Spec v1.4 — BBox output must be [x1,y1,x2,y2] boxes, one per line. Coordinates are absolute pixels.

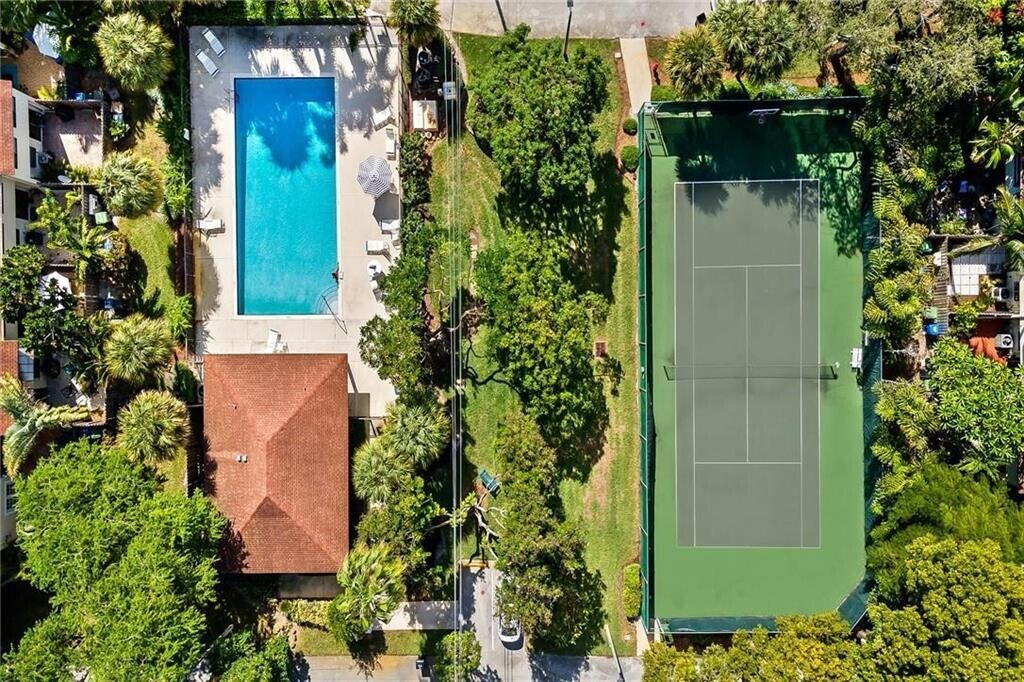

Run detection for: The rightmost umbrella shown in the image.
[358,160,392,194]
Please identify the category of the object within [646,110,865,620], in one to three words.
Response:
tennis court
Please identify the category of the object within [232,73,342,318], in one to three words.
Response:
swimming pool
